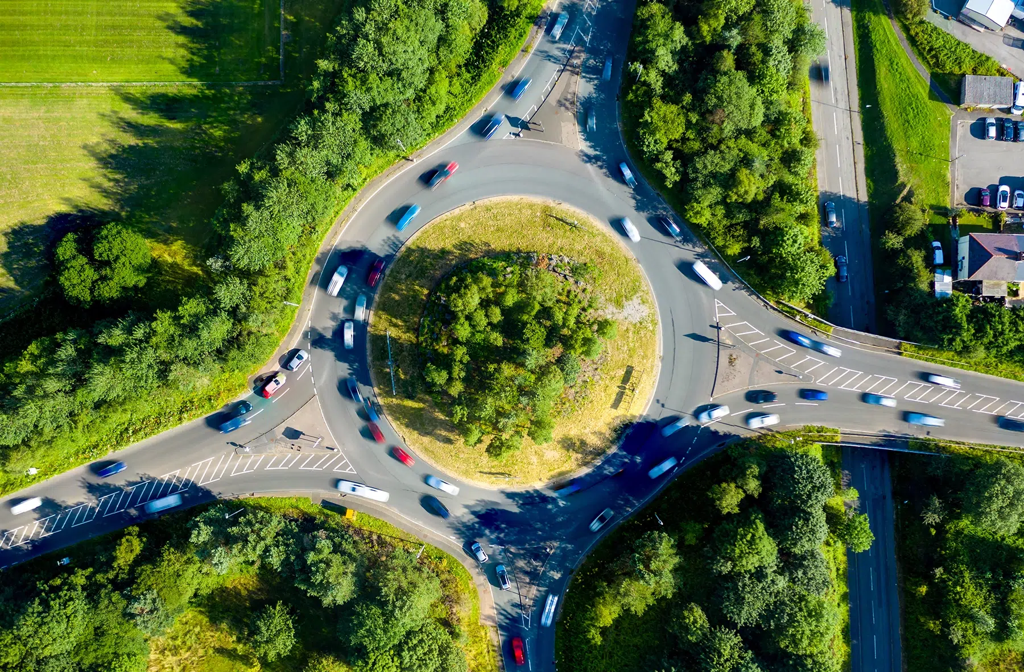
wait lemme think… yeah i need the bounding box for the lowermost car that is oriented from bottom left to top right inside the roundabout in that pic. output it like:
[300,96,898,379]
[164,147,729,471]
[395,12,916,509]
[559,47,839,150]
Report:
[588,507,614,533]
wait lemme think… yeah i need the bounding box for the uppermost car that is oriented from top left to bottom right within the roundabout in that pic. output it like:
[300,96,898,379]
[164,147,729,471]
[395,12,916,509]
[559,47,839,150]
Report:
[617,161,639,188]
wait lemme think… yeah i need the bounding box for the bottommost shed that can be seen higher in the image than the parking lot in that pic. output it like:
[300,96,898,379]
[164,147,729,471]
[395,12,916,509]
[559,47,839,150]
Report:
[957,74,1014,109]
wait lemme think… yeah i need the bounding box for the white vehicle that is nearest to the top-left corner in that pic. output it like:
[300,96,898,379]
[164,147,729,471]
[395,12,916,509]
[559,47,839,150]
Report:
[326,265,350,296]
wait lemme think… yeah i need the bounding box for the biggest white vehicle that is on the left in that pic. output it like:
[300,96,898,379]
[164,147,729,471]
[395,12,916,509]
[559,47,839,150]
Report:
[339,478,389,503]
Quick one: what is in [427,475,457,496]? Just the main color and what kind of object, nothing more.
white car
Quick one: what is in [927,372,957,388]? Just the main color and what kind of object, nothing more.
white car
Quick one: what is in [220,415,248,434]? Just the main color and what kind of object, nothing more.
blue car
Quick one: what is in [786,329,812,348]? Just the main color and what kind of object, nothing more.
blue car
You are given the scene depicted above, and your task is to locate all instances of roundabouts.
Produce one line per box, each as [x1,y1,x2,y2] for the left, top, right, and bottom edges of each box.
[303,123,756,555]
